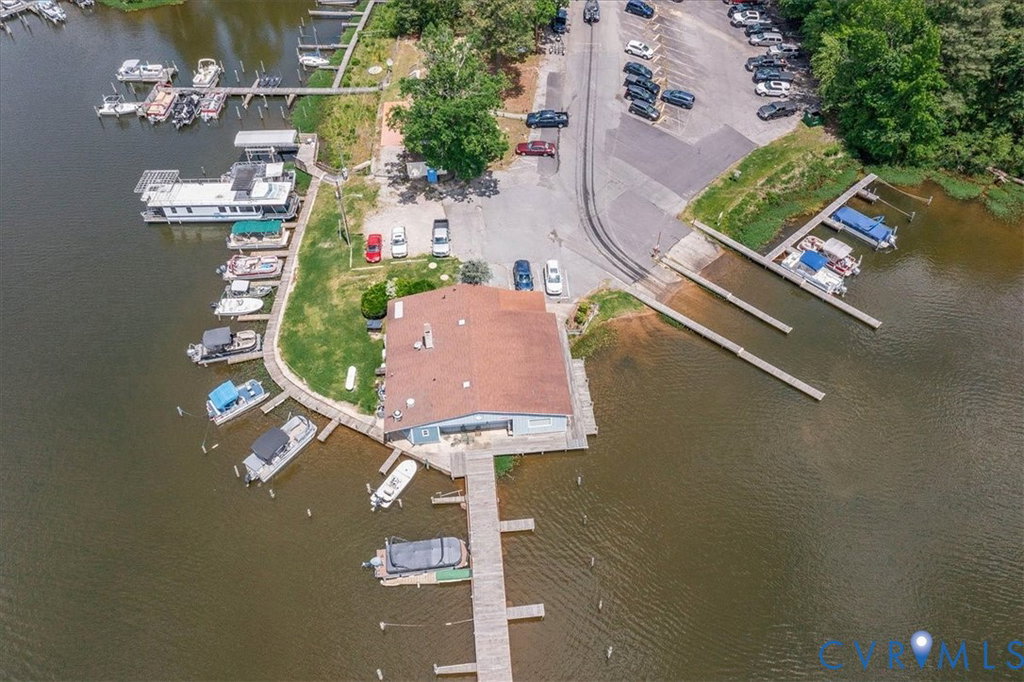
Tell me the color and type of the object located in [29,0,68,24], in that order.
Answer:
white boat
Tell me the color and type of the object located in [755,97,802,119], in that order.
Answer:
gray truck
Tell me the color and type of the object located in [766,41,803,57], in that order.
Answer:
gray car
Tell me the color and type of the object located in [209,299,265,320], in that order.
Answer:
white boat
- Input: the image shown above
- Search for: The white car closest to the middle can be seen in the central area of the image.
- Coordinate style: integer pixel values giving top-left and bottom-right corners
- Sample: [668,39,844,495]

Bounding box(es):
[543,260,564,296]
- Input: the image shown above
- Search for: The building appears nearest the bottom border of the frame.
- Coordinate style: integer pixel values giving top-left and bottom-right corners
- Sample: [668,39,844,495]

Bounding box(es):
[384,281,573,448]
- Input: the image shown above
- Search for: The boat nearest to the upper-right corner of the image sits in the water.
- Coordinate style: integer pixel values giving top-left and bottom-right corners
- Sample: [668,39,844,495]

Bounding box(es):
[833,207,900,253]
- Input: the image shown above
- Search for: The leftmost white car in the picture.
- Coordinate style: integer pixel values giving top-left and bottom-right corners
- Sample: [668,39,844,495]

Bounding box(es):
[388,224,408,260]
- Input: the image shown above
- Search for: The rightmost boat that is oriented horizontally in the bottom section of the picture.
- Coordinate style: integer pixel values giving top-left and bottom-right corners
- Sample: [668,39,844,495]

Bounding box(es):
[368,536,469,584]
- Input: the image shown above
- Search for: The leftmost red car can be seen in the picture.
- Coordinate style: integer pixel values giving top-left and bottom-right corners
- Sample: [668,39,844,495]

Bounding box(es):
[363,232,384,265]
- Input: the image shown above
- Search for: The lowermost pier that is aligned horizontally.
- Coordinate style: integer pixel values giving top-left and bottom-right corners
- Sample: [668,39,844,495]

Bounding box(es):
[434,660,476,679]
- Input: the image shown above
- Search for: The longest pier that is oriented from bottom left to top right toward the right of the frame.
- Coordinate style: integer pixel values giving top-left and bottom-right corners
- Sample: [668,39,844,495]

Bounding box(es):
[764,176,876,264]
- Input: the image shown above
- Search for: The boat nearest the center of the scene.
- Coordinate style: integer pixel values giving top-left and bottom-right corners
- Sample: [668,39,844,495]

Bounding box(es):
[368,460,415,516]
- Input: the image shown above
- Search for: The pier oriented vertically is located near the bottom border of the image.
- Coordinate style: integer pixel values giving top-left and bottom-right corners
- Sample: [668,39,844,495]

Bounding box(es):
[466,453,509,682]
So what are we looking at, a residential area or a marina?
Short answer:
marina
